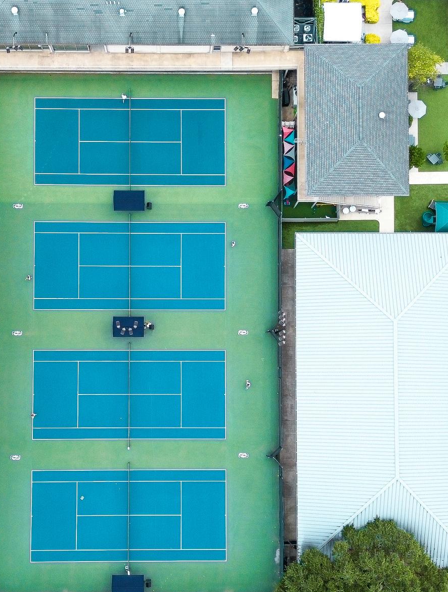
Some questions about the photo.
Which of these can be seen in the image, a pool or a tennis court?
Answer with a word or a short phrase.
tennis court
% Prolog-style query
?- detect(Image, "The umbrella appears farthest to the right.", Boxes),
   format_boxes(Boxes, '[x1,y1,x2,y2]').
[409,101,427,118]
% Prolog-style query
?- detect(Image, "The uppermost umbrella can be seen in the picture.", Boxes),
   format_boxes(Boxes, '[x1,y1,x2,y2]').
[390,2,408,21]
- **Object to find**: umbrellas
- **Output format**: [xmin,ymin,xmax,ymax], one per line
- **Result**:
[409,101,427,118]
[390,2,408,21]
[390,30,408,43]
